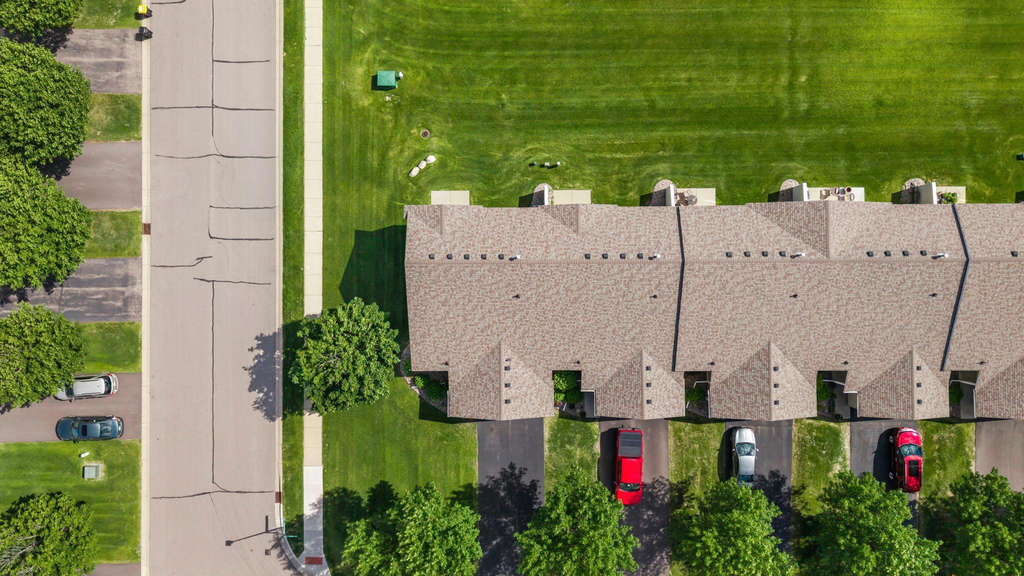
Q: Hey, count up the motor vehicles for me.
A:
5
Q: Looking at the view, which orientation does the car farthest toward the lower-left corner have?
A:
from left to right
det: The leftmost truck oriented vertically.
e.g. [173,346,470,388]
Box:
[614,423,645,503]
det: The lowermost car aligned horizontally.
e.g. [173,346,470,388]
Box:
[60,415,125,444]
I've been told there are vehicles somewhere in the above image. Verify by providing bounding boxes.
[60,415,125,444]
[60,372,122,402]
[728,425,759,488]
[888,428,923,492]
[614,423,645,503]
